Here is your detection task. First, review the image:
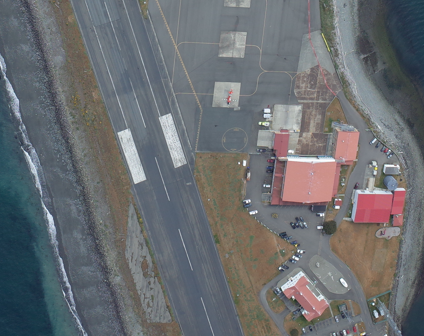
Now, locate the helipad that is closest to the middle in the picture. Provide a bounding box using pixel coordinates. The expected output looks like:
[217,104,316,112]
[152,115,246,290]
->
[213,81,240,110]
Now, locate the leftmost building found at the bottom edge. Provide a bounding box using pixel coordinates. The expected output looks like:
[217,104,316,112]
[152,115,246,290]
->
[282,272,329,321]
